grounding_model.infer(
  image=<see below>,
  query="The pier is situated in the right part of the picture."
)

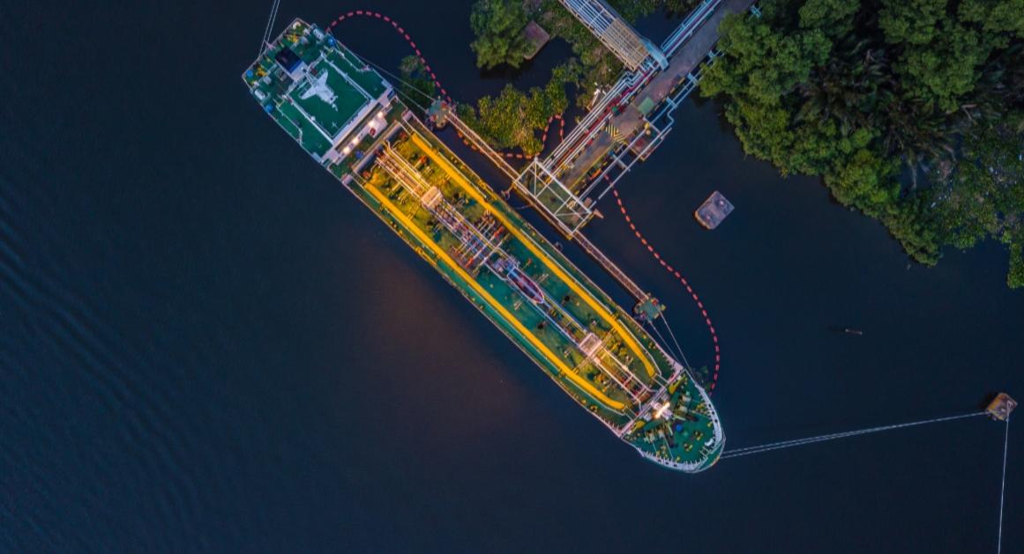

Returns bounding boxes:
[556,0,767,195]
